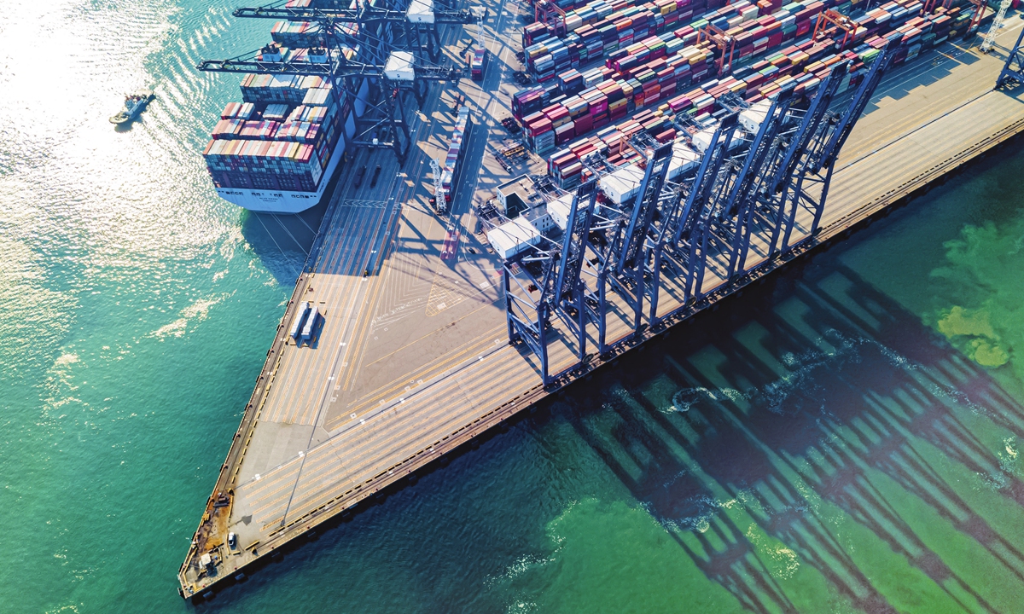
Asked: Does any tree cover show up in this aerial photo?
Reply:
No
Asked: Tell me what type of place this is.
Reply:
port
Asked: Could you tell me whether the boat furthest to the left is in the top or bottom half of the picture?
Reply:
top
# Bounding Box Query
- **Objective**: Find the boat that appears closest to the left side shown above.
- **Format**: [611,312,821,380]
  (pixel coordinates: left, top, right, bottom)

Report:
[107,87,157,120]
